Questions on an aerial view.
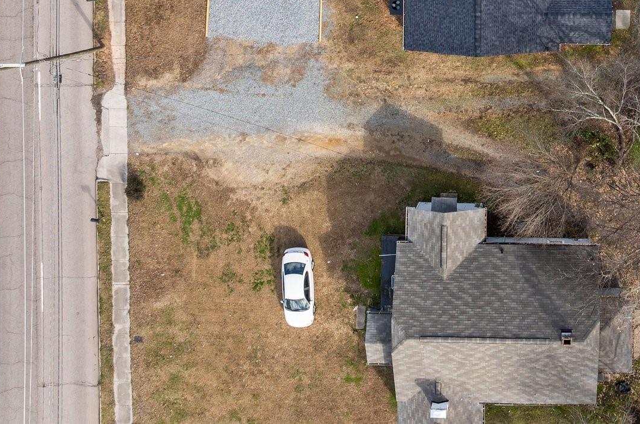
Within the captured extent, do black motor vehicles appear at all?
No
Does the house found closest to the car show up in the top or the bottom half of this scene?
bottom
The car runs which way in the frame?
up and down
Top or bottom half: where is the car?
bottom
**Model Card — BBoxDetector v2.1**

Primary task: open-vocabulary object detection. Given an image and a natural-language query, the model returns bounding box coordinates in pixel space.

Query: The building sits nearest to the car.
[364,197,635,424]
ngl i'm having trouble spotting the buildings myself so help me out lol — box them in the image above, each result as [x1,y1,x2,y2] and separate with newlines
[402,0,614,56]
[364,197,635,424]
